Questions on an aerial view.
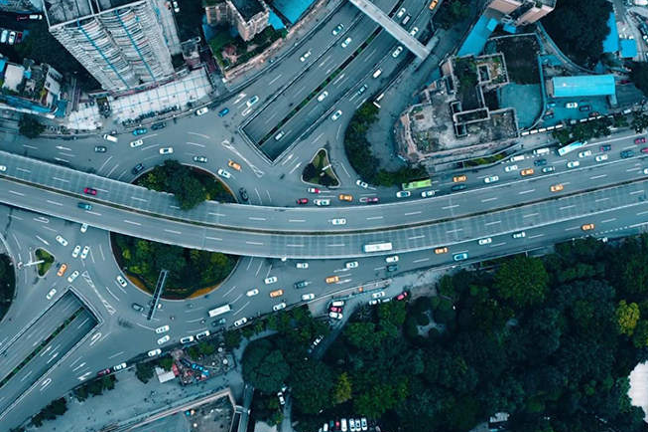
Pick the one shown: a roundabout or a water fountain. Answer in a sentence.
Visible in the photo is a roundabout.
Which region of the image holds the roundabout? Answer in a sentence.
Look in the left portion of the view to spot the roundabout.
